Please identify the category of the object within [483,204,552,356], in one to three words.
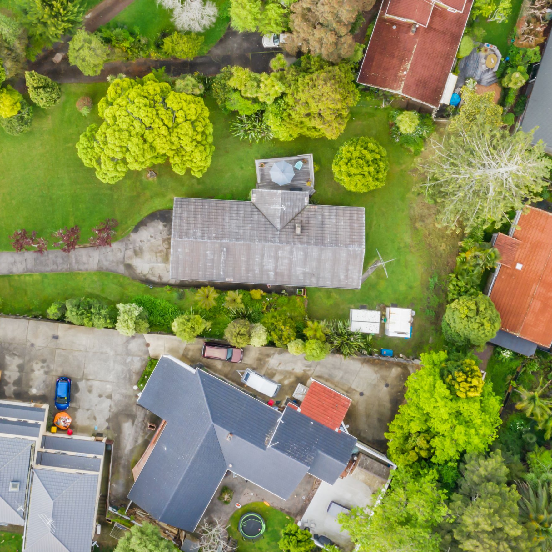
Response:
house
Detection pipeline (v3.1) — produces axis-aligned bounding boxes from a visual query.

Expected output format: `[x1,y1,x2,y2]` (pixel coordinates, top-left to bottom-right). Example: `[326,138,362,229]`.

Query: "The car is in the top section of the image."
[263,29,299,47]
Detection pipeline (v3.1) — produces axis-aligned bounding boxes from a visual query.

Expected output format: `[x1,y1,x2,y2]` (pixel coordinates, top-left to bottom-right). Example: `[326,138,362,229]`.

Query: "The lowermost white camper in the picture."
[239,369,284,401]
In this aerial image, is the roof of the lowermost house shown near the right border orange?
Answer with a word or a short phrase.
Yes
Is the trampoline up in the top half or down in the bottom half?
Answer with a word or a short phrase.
bottom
